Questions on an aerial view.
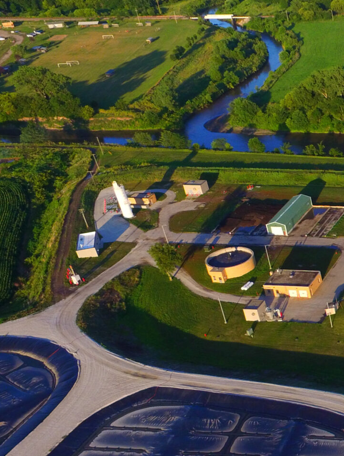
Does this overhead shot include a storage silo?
Yes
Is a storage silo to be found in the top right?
No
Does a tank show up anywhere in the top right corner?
No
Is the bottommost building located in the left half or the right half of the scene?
right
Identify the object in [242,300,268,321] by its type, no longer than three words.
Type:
building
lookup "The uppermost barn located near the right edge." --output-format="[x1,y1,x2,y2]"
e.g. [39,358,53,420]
[265,193,332,235]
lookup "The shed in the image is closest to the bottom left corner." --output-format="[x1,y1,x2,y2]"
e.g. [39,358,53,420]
[76,230,112,258]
